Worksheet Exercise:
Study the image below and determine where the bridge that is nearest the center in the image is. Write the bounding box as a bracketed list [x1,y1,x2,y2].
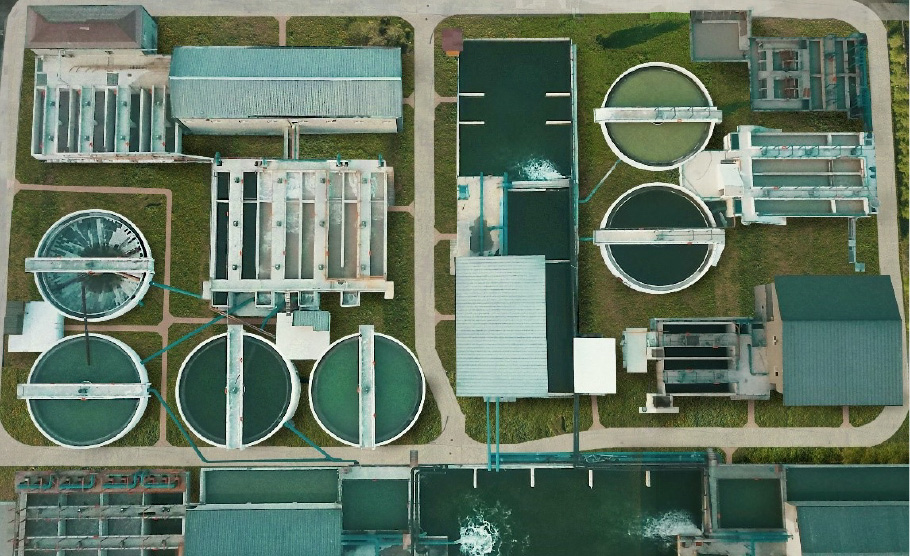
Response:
[358,325,376,449]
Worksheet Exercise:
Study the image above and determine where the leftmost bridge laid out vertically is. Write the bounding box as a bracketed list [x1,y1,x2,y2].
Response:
[223,325,247,449]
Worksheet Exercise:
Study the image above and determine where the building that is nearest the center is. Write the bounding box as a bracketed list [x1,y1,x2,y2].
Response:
[450,240,547,397]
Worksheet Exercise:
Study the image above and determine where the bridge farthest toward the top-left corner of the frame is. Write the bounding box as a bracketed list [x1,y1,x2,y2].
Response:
[23,258,156,273]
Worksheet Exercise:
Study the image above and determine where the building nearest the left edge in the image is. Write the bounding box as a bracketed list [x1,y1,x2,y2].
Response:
[4,302,71,352]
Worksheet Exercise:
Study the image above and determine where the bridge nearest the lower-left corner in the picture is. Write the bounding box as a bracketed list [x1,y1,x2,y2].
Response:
[13,383,151,399]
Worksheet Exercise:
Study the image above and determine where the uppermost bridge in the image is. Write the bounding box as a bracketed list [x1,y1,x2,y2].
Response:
[593,107,723,126]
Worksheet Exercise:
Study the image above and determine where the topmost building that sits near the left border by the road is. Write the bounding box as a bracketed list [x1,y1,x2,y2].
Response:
[25,4,154,54]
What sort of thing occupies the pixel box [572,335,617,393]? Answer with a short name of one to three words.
shed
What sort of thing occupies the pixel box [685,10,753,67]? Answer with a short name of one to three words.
storage tank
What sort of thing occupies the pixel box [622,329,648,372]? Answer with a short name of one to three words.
shed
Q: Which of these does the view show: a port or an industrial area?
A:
industrial area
